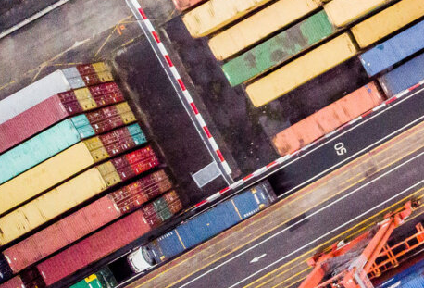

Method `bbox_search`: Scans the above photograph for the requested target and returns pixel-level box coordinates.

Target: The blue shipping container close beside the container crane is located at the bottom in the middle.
[146,178,277,267]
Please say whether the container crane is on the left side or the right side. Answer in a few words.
right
